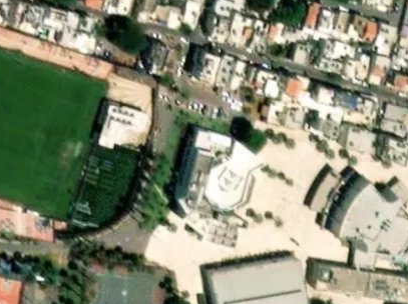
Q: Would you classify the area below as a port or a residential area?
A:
residential area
